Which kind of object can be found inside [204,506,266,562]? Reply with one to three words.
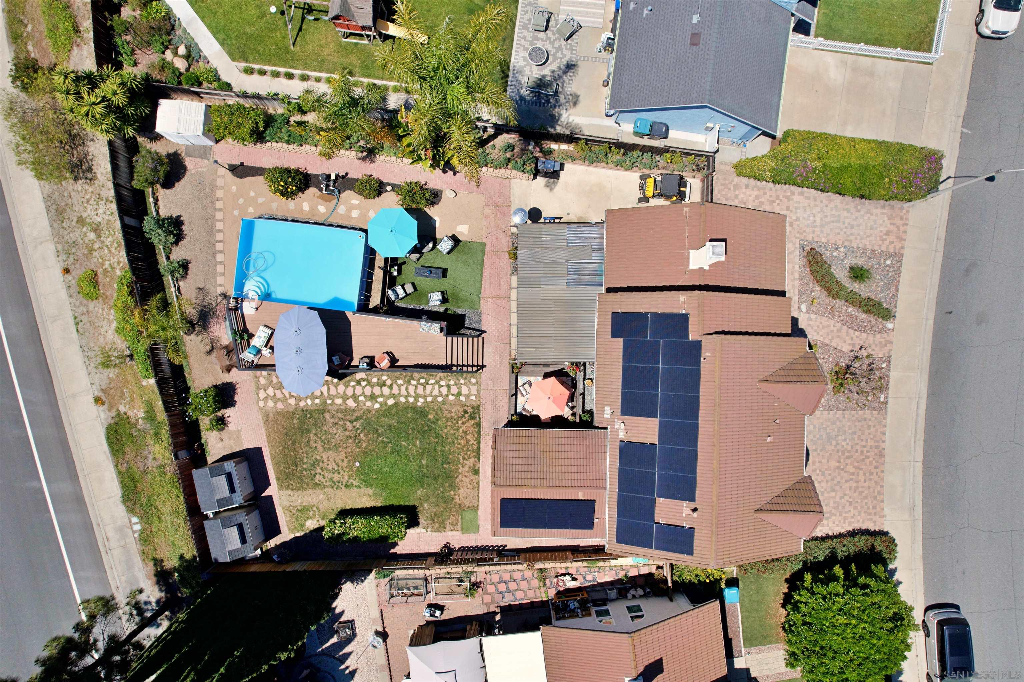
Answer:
shed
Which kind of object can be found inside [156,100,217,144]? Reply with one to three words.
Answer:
shed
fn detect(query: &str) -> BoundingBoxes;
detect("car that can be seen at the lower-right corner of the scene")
[926,610,982,682]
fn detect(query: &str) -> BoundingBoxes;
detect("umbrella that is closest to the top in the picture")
[368,208,418,258]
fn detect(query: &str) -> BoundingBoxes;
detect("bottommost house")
[540,586,727,682]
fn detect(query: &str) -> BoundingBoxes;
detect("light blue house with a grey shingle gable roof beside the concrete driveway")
[607,0,821,141]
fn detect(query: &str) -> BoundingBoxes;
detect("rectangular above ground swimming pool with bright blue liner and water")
[234,215,375,312]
